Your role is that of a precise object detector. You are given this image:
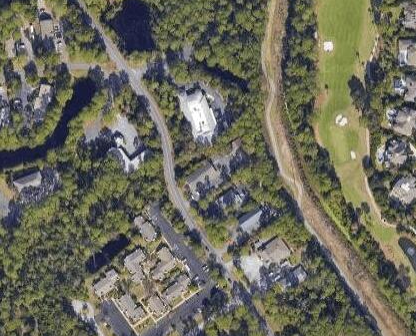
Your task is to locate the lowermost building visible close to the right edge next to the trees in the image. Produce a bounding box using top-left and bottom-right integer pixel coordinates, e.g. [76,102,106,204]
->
[390,175,416,206]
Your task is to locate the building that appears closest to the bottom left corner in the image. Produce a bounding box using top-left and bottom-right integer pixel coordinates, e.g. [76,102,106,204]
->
[92,269,121,298]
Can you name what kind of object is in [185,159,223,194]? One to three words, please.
building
